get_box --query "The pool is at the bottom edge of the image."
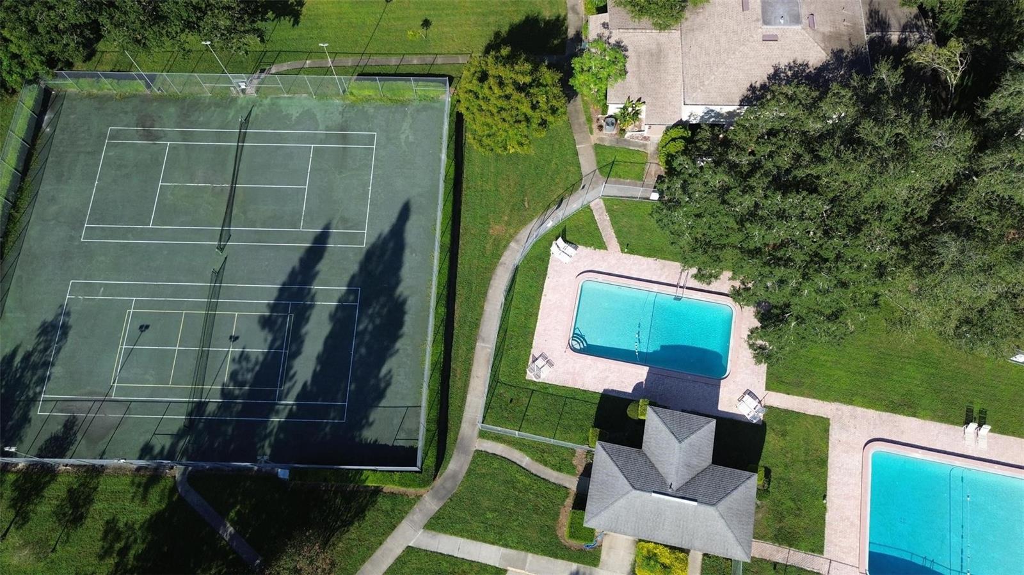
[859,442,1024,575]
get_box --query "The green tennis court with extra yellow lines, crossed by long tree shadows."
[0,259,434,468]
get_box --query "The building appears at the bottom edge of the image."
[584,409,759,561]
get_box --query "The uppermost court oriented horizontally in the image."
[8,95,446,268]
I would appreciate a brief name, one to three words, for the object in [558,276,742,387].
swimming pool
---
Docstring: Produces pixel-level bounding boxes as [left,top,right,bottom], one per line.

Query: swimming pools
[859,442,1024,575]
[558,276,742,387]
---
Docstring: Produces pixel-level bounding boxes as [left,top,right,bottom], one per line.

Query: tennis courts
[0,259,434,468]
[8,95,446,268]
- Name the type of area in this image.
sports ground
